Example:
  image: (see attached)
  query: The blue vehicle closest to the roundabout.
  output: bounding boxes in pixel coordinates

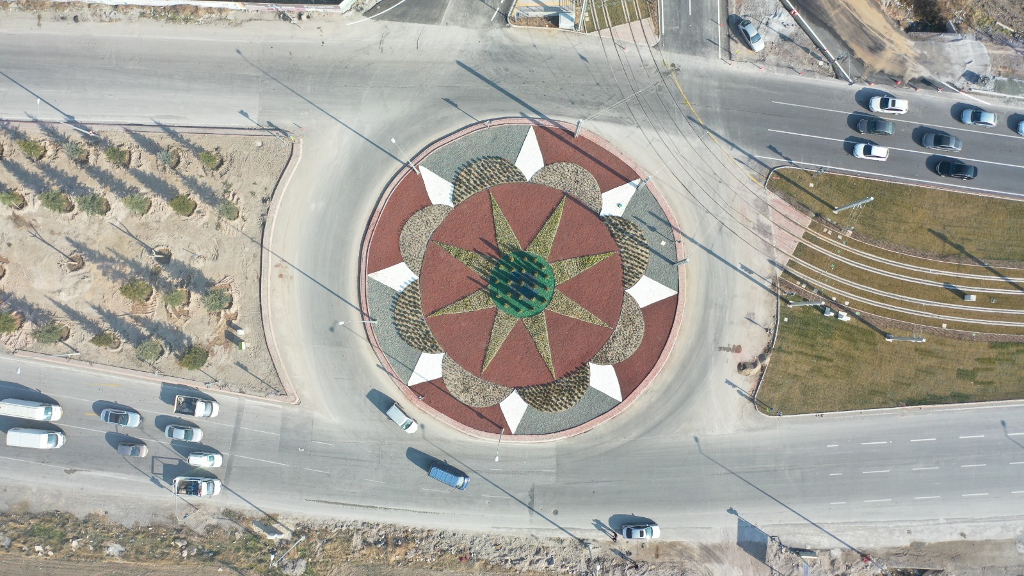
[428,461,469,491]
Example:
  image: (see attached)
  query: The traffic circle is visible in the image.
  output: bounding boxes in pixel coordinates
[358,116,685,443]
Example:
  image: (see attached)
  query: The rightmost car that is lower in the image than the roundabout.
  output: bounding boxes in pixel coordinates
[622,522,659,542]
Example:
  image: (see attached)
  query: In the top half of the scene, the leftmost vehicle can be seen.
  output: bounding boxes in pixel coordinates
[737,17,764,54]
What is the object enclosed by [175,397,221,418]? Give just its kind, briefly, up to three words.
truck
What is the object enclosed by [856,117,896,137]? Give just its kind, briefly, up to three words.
car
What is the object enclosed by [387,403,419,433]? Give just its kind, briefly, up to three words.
van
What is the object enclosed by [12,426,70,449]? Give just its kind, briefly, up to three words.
vehicle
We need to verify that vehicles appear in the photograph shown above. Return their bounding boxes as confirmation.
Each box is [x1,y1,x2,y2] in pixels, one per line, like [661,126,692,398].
[175,397,221,418]
[2,399,67,423]
[935,160,978,181]
[920,132,962,153]
[622,522,659,542]
[737,17,764,54]
[187,451,224,470]
[856,117,896,137]
[173,476,222,497]
[101,408,143,429]
[959,108,999,129]
[867,94,909,116]
[166,424,205,443]
[12,426,70,449]
[1016,121,1024,137]
[428,461,469,491]
[851,141,890,162]
[387,403,419,433]
[117,441,150,460]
